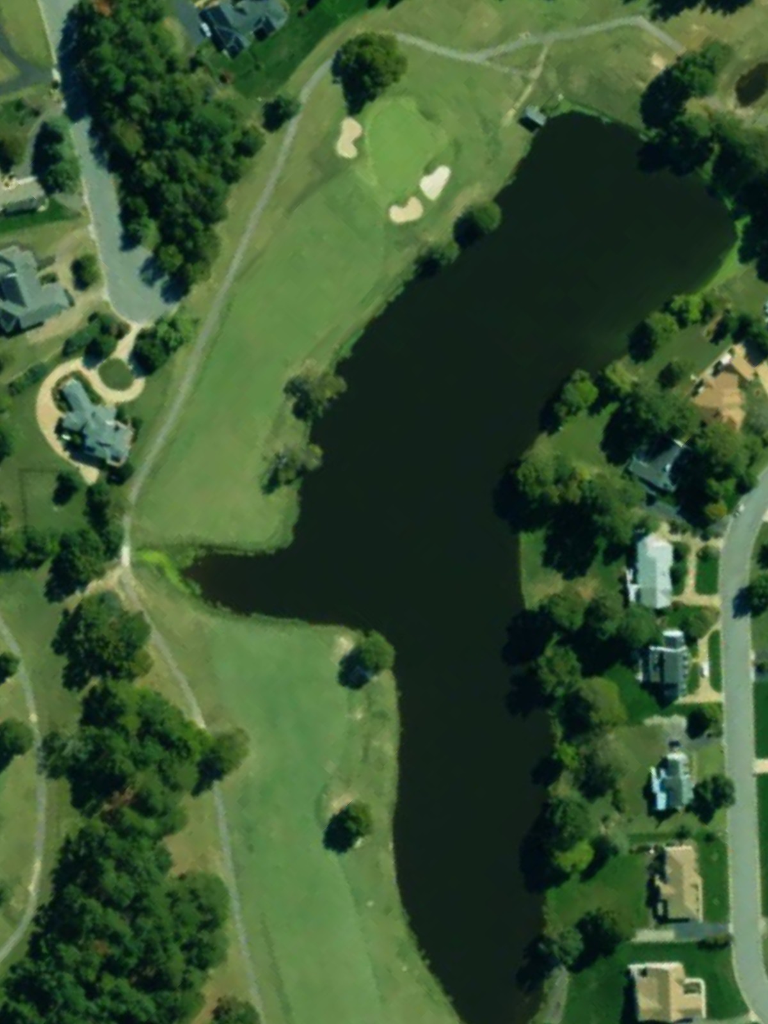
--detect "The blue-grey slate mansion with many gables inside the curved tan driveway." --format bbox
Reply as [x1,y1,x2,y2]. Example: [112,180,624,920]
[57,374,138,467]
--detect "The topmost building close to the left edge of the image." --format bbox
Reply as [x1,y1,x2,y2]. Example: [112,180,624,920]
[0,171,46,214]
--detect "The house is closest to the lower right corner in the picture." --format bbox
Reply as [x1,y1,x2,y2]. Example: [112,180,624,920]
[631,963,707,1024]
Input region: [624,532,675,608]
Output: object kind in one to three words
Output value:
house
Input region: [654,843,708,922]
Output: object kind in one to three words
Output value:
house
